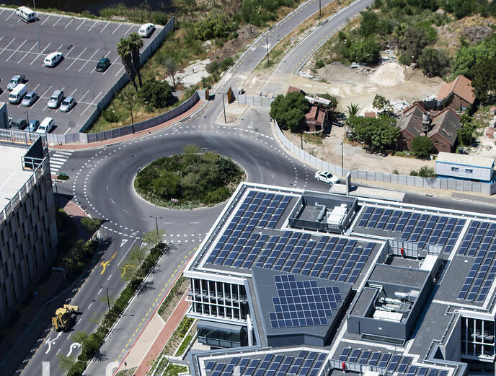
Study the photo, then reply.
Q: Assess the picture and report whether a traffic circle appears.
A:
Yes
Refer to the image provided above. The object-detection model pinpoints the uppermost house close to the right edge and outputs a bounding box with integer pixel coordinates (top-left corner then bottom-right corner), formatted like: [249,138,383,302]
[441,73,473,111]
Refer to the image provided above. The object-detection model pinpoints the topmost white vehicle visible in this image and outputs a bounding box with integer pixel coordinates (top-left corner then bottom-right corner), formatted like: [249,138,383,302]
[16,6,35,21]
